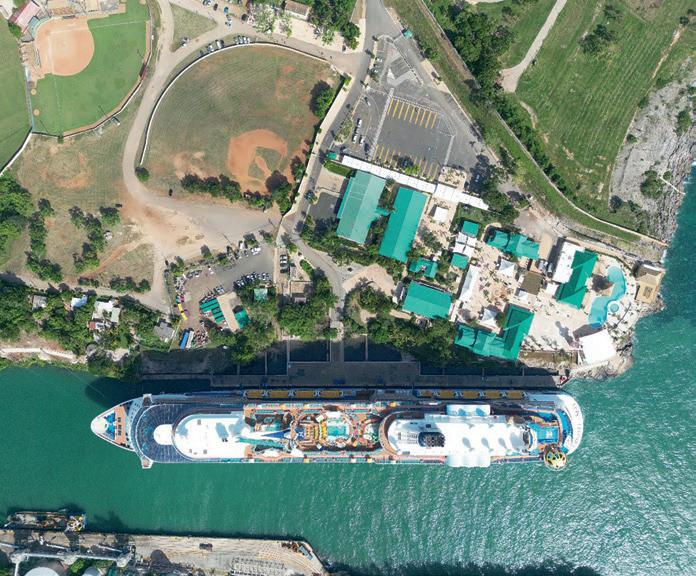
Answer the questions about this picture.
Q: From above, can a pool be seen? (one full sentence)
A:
Yes, I can see a pool in this picture.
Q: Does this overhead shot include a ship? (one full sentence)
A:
Yes, there is a ship in the image.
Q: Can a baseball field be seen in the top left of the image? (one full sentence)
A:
Yes, a baseball field appears in the top left of the image.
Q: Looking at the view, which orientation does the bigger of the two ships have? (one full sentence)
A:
In this picture, the bigger of the two ships is oriented from left to right.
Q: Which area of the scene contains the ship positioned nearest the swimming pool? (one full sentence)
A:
The ship positioned nearest the swimming pool appears toward the bottom of the photo.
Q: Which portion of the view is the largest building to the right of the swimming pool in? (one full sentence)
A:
The largest building to the right of the swimming pool appears toward the right of the photo.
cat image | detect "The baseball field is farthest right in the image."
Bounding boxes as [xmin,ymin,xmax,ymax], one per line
[140,44,343,206]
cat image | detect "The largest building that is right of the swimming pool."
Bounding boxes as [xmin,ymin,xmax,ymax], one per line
[633,263,666,303]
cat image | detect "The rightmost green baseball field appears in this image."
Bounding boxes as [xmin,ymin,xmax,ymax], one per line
[30,0,150,135]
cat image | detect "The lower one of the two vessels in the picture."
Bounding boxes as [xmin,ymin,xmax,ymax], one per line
[5,509,88,530]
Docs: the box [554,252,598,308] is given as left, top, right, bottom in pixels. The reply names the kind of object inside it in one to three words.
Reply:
building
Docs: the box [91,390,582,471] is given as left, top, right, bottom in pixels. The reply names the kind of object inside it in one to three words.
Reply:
ship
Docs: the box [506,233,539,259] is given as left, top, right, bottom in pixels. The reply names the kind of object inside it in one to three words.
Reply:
building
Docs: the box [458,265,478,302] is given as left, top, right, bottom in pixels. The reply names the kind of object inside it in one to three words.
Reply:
tent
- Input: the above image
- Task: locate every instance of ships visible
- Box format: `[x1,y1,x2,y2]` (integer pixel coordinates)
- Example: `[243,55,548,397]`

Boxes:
[91,390,582,471]
[5,509,88,530]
